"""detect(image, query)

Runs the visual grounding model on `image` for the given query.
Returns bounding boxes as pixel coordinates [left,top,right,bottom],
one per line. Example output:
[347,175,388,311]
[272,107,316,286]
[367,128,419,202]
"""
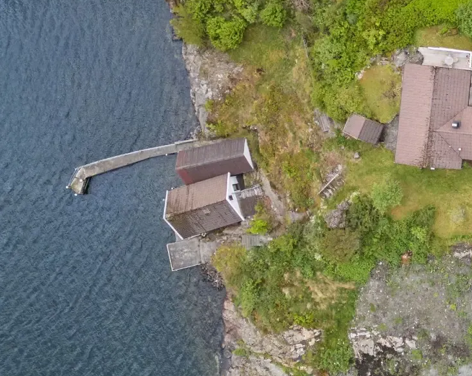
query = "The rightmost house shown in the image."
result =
[394,65,472,170]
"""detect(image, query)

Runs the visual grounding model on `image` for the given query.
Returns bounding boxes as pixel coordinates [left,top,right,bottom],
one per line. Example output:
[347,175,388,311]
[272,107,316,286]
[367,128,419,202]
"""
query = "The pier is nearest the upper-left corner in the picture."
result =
[69,140,202,196]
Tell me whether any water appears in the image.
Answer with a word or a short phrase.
Yes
